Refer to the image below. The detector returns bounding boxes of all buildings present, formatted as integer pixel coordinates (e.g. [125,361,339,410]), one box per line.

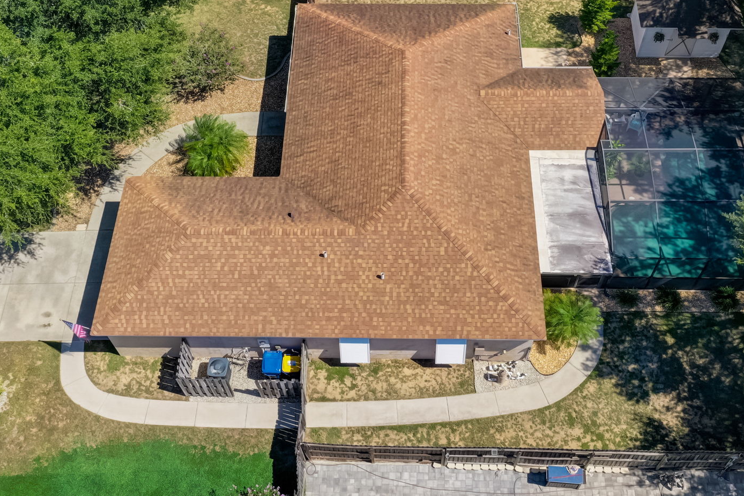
[90,1,615,365]
[628,0,743,57]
